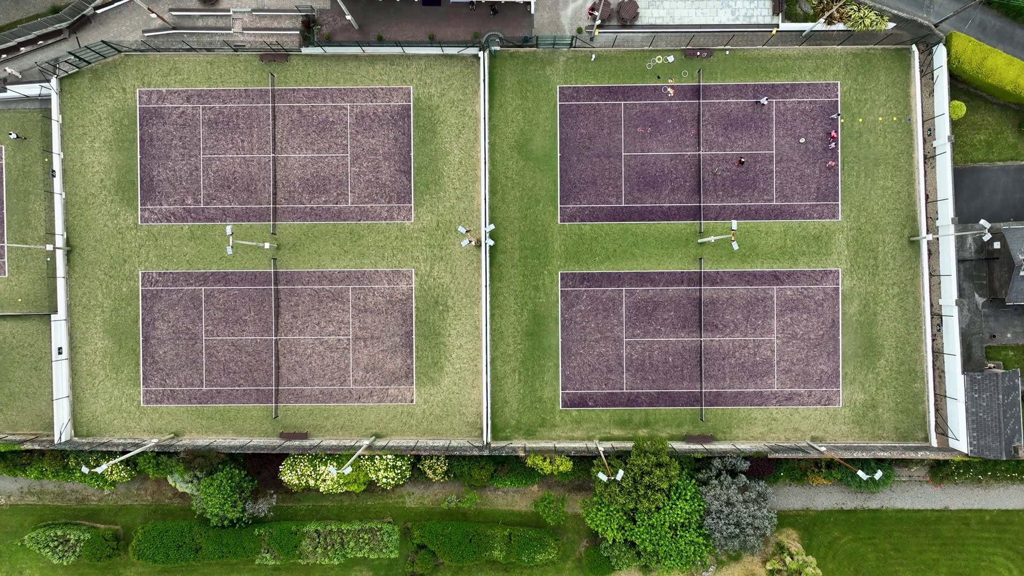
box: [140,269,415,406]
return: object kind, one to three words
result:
tennis court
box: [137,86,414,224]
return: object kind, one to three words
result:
tennis court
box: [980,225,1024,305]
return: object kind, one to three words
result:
house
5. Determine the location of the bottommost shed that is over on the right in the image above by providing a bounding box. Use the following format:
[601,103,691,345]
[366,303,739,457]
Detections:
[955,367,1024,461]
